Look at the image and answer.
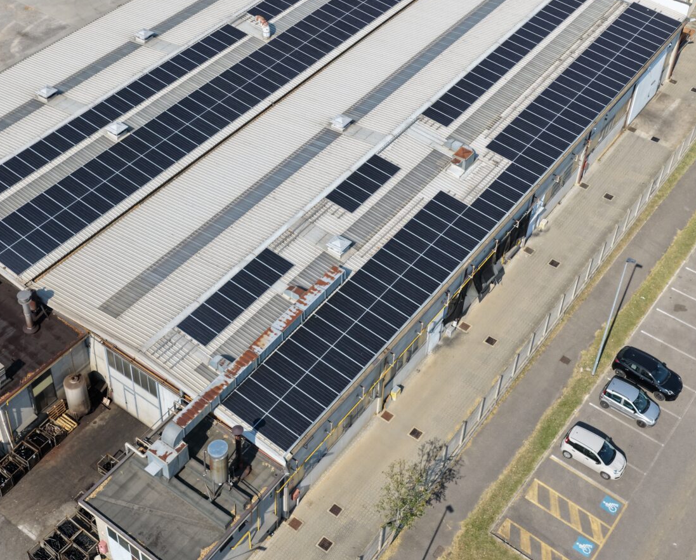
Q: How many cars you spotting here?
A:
3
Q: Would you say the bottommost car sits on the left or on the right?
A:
right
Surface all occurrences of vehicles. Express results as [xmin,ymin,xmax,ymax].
[596,371,663,427]
[612,340,688,399]
[557,421,629,479]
